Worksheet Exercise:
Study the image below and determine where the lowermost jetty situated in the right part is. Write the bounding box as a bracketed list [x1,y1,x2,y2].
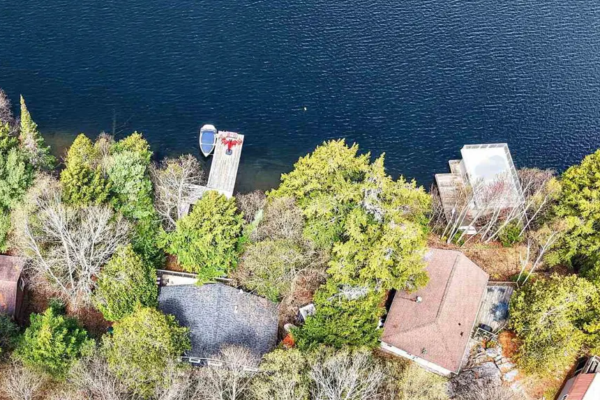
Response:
[433,174,475,223]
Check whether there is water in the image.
Yes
